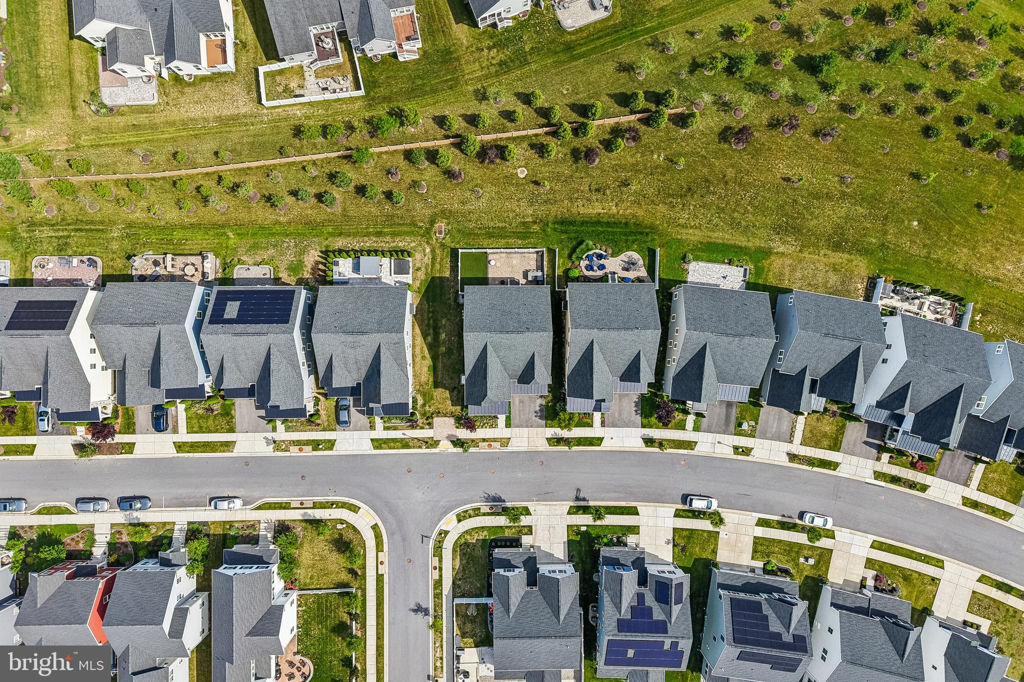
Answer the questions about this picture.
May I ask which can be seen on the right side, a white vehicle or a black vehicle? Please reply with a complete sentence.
What appears on the right side is a white vehicle.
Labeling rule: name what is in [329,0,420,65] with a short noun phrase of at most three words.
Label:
house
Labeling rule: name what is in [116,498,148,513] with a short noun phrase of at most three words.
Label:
car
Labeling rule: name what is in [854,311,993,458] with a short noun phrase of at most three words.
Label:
house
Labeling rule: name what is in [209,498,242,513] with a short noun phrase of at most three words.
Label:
car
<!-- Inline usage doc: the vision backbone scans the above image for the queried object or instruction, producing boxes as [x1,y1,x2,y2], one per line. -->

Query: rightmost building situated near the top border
[470,0,531,31]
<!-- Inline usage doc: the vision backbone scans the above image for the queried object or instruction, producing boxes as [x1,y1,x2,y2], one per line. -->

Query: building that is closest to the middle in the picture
[460,286,553,416]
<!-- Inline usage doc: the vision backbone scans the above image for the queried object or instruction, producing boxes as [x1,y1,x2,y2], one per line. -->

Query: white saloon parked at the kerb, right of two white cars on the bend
[802,513,835,530]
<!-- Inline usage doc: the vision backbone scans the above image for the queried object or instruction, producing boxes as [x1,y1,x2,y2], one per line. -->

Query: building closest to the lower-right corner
[922,618,1011,682]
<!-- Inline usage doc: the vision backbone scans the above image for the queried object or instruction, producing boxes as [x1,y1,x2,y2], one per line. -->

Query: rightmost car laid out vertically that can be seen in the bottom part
[335,398,350,429]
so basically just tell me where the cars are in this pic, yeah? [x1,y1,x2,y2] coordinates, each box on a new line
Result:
[74,499,107,515]
[0,499,24,515]
[116,498,148,513]
[209,498,242,513]
[34,403,53,434]
[335,398,350,429]
[688,496,720,512]
[802,513,835,530]
[149,404,166,433]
